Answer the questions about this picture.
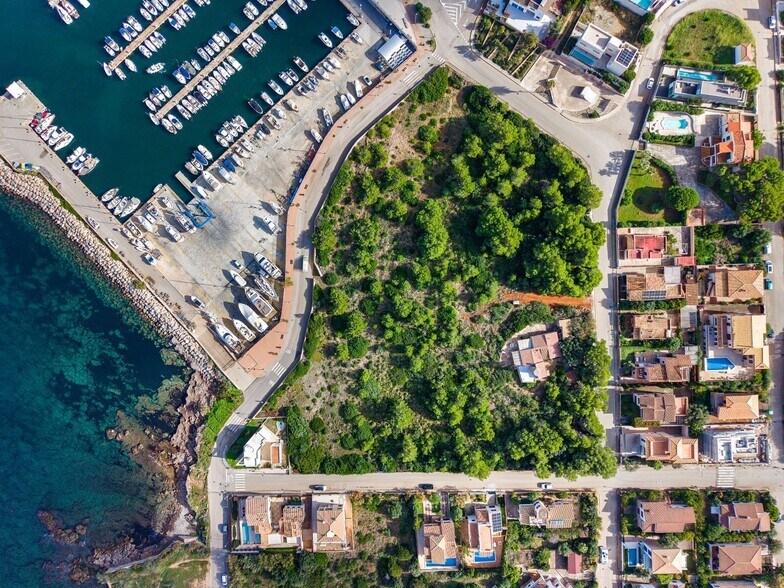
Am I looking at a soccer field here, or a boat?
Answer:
boat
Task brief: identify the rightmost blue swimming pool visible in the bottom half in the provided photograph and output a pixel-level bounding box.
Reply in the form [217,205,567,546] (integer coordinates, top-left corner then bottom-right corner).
[706,358,735,371]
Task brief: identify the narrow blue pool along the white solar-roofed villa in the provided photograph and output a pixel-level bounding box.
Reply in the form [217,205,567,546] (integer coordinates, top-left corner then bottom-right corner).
[569,50,597,68]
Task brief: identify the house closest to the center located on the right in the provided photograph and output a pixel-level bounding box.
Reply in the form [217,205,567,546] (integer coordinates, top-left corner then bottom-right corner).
[510,332,562,384]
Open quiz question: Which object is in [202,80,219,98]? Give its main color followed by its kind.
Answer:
white boat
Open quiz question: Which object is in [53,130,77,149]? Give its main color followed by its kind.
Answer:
white boat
